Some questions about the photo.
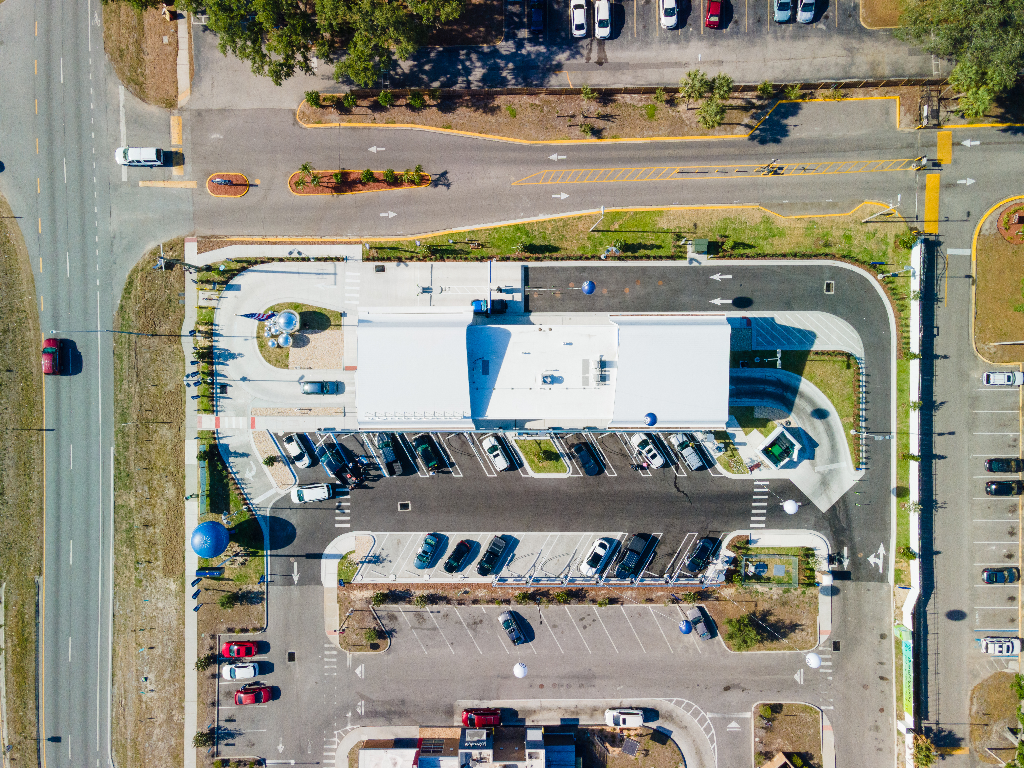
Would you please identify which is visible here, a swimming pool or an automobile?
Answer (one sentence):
The image shows an automobile.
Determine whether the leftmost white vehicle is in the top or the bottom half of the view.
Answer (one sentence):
The leftmost white vehicle is in the top half of the image.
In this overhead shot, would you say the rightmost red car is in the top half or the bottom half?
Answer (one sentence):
You can find the rightmost red car in the top half.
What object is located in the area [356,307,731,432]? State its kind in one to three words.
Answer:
building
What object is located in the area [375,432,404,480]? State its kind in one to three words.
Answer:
vehicle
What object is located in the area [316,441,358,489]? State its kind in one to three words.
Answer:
vehicle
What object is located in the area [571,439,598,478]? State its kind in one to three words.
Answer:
car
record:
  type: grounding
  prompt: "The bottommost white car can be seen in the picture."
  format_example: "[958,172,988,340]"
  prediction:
[604,707,644,729]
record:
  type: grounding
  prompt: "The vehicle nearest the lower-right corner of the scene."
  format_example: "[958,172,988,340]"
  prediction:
[978,636,1022,657]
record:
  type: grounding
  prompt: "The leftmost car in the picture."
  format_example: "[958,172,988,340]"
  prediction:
[39,338,63,375]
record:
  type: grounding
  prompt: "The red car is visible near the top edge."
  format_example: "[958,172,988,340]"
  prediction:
[704,0,724,29]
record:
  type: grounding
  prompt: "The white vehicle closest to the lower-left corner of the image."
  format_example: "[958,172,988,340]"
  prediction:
[223,661,260,681]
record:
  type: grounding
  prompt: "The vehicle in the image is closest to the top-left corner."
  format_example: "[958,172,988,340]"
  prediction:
[115,146,165,167]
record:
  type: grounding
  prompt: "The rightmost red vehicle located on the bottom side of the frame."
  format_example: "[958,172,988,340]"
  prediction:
[462,708,501,730]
